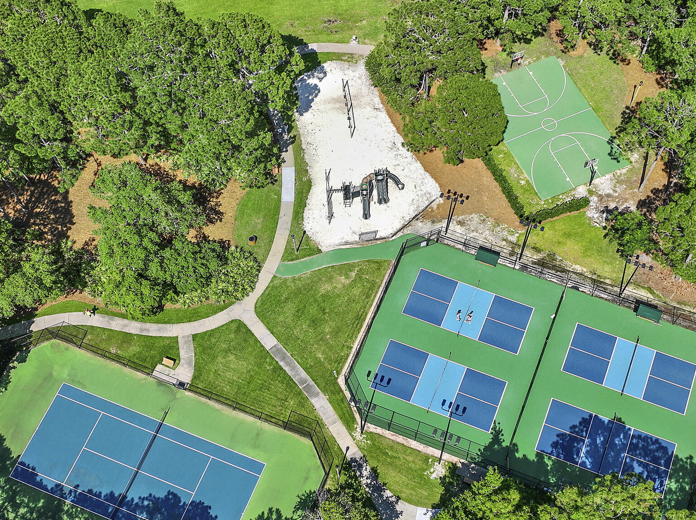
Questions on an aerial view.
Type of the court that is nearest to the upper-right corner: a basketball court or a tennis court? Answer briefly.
basketball court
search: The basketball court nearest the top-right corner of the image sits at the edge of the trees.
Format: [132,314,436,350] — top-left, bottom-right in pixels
[471,55,628,201]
